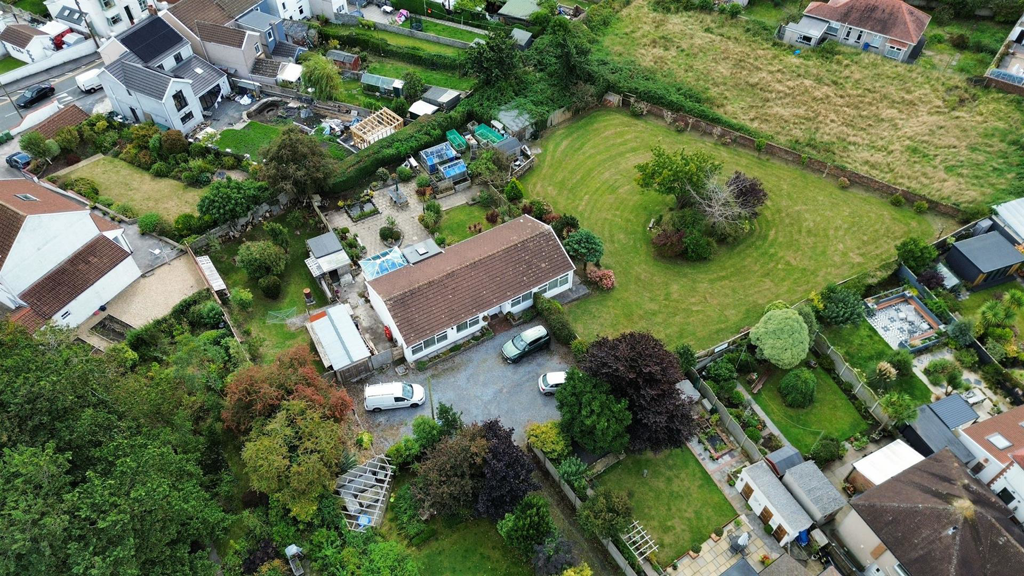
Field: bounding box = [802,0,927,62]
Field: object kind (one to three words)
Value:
house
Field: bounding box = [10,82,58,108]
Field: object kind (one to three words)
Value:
car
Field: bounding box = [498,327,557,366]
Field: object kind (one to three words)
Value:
car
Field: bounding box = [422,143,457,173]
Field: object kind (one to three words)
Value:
greenhouse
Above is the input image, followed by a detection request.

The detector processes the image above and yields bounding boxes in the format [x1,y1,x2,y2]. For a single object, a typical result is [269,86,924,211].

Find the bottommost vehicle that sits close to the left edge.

[0,148,34,172]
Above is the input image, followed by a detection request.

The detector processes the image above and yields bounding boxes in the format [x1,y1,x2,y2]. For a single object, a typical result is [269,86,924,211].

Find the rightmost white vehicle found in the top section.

[69,65,102,92]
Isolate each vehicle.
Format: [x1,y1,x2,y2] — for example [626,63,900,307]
[364,383,424,418]
[10,82,58,108]
[69,65,102,92]
[0,148,34,172]
[533,370,586,402]
[498,327,557,366]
